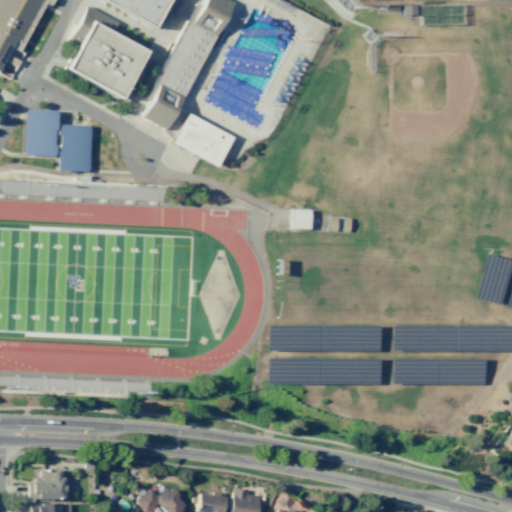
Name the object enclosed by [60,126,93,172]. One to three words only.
building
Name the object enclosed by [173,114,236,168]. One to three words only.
building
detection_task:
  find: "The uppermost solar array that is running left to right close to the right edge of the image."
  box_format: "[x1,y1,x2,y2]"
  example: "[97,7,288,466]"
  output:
[394,326,512,352]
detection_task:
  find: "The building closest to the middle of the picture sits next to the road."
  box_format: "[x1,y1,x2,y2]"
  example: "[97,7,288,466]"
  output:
[288,208,314,230]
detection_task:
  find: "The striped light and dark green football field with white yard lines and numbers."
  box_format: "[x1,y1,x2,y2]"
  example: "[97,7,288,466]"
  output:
[0,221,244,358]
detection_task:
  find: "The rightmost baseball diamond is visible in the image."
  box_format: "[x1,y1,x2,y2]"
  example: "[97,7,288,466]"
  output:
[384,47,479,142]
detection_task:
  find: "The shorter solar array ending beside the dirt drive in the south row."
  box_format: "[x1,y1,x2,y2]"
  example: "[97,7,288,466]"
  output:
[394,360,488,385]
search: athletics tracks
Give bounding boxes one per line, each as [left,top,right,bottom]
[0,201,264,378]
